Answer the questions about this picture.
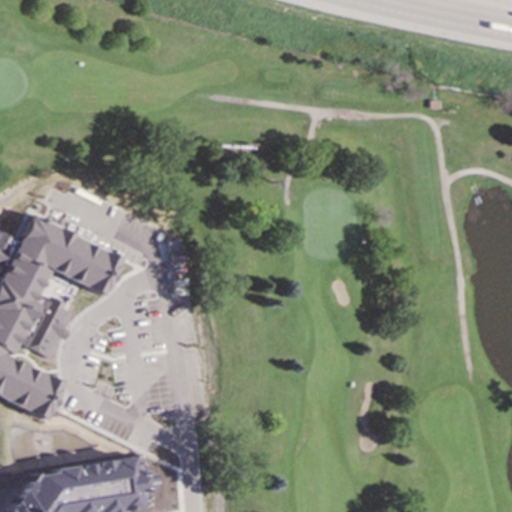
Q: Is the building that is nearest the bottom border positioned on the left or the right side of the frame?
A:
left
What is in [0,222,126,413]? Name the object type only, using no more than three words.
building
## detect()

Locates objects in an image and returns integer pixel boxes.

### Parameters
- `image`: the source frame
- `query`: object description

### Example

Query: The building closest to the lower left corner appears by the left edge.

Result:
[22,456,159,512]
